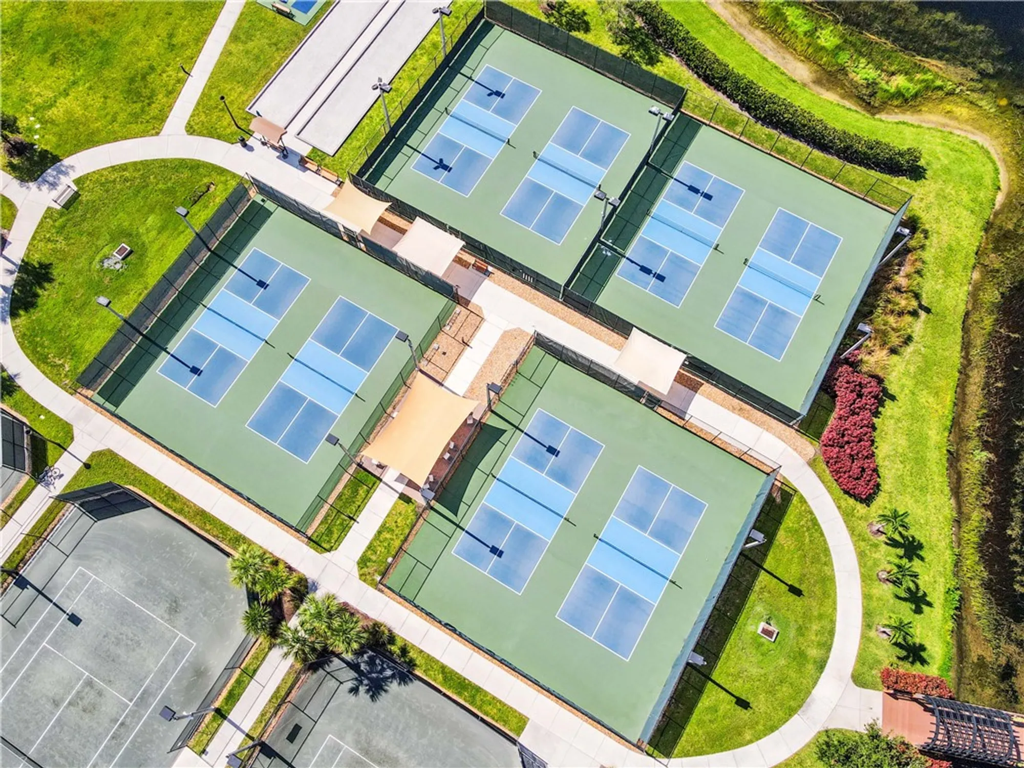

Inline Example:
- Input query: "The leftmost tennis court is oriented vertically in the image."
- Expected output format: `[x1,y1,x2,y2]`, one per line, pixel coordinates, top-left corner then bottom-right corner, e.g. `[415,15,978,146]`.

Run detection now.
[0,410,26,501]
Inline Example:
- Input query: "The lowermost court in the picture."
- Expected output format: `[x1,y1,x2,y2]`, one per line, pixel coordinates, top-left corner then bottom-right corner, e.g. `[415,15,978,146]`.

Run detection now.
[248,649,517,768]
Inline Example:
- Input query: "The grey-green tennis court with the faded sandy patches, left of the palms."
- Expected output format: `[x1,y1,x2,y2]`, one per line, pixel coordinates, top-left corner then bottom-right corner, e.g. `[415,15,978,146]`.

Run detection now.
[0,493,248,768]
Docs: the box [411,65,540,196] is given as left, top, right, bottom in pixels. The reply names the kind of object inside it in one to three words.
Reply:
sports court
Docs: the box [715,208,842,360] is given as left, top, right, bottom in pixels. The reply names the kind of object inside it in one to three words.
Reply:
sports court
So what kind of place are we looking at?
sports ground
